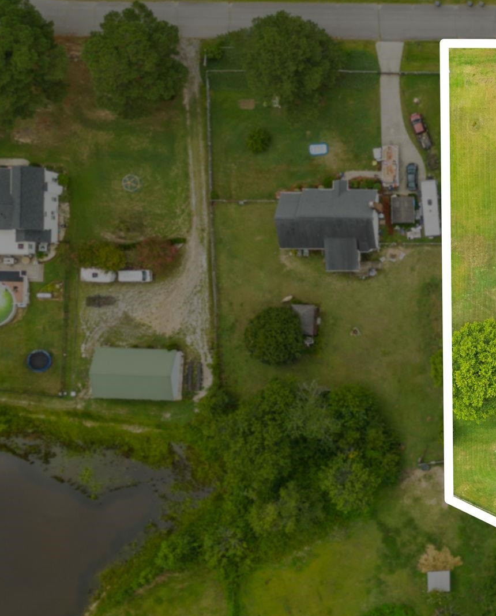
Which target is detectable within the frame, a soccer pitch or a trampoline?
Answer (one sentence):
Visible in the photo is a trampoline.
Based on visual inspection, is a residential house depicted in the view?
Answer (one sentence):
Yes, there's a residential house here.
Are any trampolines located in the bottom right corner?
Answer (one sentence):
No, in the bottom right corner there is no trampoline.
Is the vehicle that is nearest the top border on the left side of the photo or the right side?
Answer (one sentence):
The vehicle that is nearest the top border appears in the right half of the scene.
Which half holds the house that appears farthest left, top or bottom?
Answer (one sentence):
The house that appears farthest left sits in the top half of the picture.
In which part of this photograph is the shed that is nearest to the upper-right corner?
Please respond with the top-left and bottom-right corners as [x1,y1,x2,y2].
[391,195,415,224]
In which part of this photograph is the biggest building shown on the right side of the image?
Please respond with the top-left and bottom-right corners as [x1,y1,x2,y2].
[275,179,384,271]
